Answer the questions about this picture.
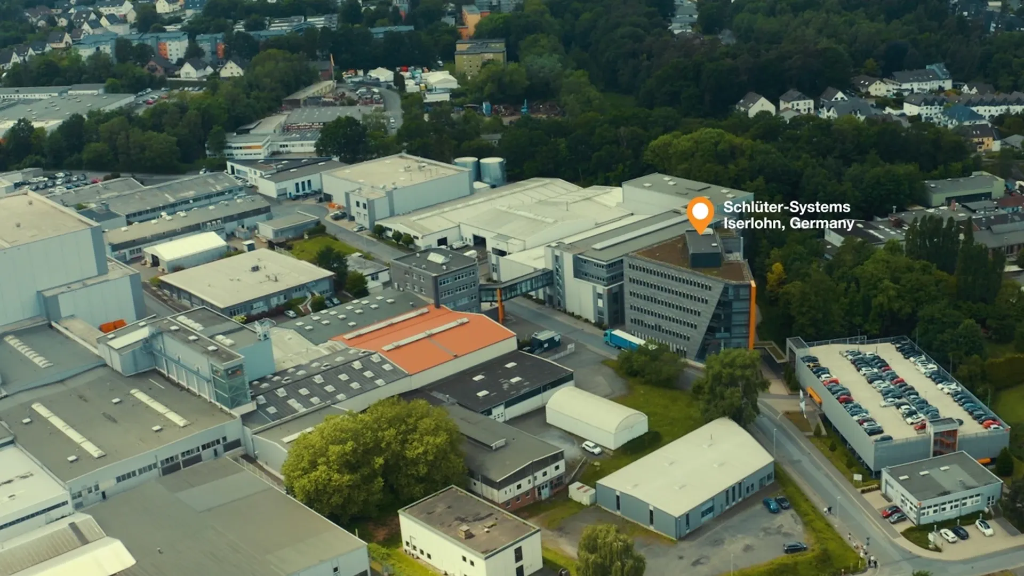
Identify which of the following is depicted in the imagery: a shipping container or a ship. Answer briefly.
shipping container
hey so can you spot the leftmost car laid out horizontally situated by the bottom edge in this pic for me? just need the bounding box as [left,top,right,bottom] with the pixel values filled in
[781,542,809,554]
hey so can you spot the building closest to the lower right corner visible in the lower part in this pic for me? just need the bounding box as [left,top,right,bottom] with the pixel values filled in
[880,451,1011,526]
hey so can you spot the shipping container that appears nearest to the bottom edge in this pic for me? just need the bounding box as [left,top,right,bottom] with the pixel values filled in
[566,480,596,507]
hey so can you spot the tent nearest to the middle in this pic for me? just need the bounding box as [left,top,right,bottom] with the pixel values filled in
[545,383,648,449]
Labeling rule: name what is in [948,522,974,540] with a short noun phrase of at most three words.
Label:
car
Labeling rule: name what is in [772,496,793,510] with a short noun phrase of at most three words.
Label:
car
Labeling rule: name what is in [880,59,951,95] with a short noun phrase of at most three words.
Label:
house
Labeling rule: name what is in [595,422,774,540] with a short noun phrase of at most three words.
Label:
building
